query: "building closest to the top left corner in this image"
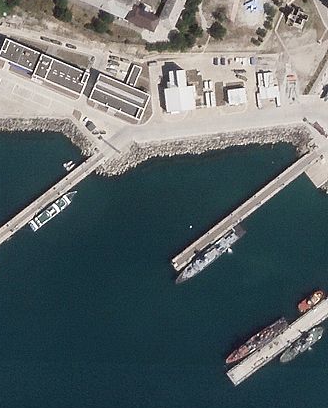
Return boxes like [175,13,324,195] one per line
[0,37,41,73]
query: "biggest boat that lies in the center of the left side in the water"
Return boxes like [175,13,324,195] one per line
[29,191,77,231]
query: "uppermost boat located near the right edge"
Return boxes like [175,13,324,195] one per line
[298,292,325,313]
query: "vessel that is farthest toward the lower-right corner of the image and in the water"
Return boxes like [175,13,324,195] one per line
[280,326,326,360]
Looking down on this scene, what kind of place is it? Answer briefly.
port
